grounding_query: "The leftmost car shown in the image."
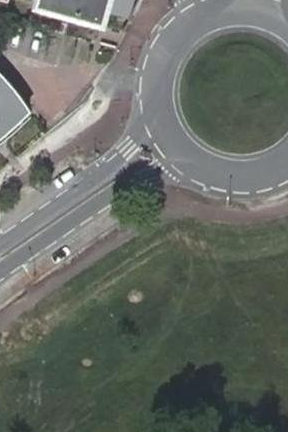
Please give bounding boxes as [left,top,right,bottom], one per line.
[10,28,22,49]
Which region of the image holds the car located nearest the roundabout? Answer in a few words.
left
